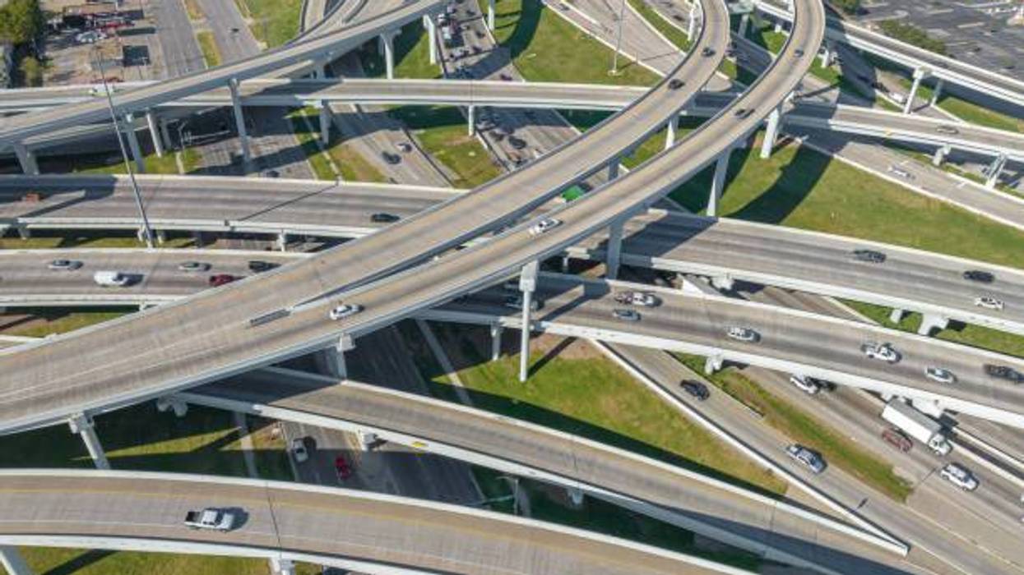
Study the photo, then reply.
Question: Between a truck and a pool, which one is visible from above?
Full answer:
The one in the frame is a truck.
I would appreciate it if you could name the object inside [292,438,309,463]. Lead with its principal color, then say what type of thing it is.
gray car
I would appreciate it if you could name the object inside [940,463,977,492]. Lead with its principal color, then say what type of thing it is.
white car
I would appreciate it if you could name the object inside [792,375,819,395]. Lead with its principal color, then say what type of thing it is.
white car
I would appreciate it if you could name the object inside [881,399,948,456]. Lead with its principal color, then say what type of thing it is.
white truck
